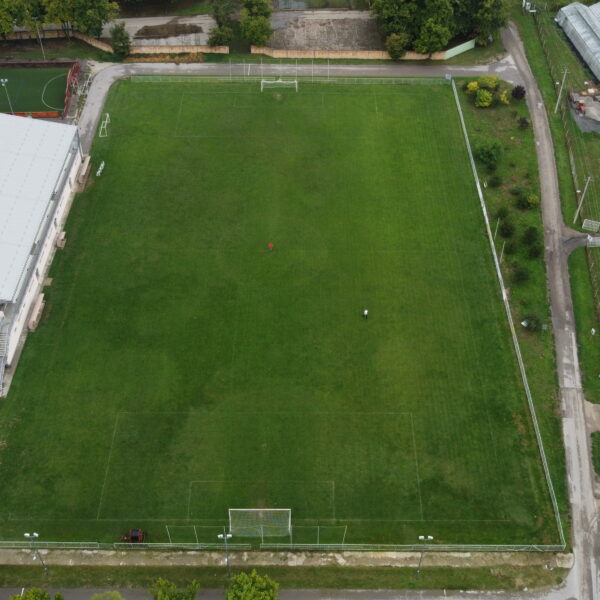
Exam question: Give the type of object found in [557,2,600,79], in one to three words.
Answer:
greenhouse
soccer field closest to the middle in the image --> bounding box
[0,79,564,554]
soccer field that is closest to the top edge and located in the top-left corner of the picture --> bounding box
[0,66,67,117]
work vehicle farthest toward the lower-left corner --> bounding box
[121,527,143,547]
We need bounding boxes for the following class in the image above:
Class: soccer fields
[0,66,67,117]
[0,79,564,554]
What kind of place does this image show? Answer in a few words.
sports ground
